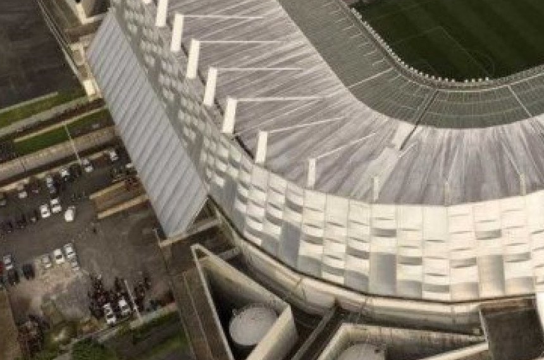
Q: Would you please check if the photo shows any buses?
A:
No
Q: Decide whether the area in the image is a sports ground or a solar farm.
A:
sports ground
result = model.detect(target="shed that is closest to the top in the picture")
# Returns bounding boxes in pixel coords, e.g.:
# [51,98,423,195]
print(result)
[83,83,104,113]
